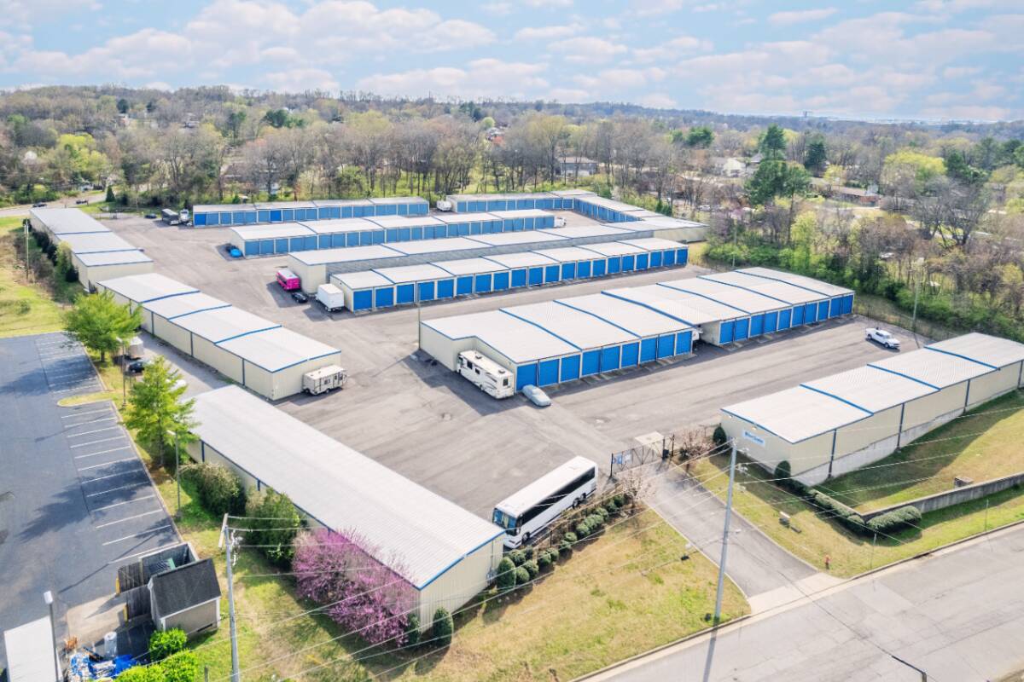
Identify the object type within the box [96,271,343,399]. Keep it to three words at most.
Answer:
building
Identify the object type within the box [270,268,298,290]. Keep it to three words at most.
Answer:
bus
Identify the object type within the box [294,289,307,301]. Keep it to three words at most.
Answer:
vehicle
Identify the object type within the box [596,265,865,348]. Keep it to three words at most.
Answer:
building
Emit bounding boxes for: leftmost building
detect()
[1,616,61,682]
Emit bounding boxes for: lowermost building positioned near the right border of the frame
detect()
[720,334,1024,484]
